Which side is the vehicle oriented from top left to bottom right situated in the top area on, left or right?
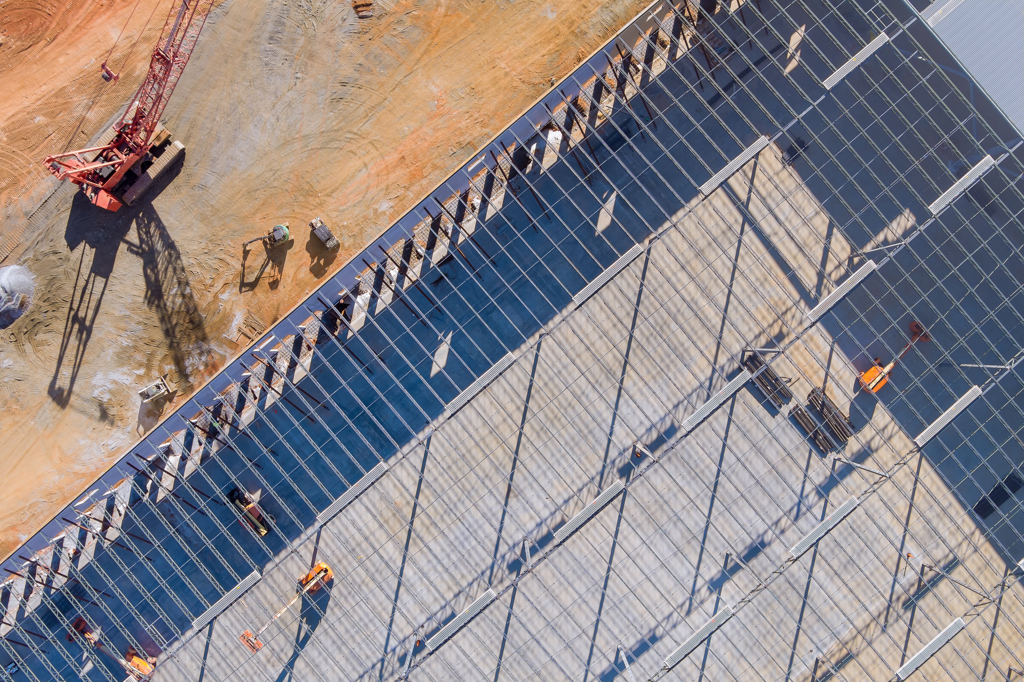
left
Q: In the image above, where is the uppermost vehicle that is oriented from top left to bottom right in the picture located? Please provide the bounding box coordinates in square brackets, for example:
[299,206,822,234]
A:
[307,213,339,249]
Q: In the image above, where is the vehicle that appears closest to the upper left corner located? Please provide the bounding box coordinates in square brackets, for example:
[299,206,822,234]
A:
[243,222,295,250]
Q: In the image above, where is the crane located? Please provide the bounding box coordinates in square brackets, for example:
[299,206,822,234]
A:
[37,0,211,212]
